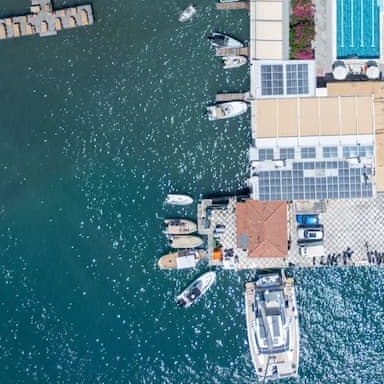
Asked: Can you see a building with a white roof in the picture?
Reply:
Yes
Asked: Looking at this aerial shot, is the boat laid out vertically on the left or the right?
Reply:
right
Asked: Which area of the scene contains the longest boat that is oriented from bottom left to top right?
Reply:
bottom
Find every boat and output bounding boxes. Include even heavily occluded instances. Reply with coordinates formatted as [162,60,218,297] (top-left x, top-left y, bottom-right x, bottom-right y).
[165,235,201,247]
[203,102,247,119]
[244,257,299,384]
[218,55,248,68]
[161,193,193,204]
[159,249,203,271]
[159,219,196,235]
[204,28,243,47]
[173,272,215,308]
[179,3,197,19]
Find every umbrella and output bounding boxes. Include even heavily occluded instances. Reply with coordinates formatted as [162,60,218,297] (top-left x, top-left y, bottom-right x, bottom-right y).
[364,64,380,78]
[332,64,348,79]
